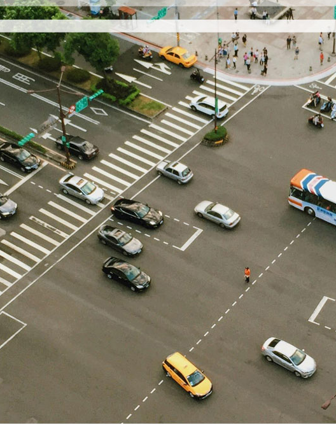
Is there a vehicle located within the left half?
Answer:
Yes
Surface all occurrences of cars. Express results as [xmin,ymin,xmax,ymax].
[112,199,163,229]
[192,203,243,232]
[57,174,106,205]
[260,339,318,380]
[99,258,153,293]
[162,349,213,401]
[54,136,101,162]
[158,45,201,67]
[153,162,198,188]
[0,192,19,220]
[94,226,147,259]
[0,143,41,173]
